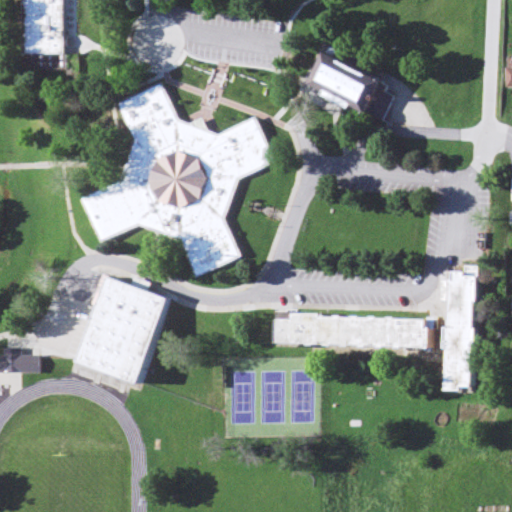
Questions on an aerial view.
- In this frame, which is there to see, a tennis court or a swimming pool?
tennis court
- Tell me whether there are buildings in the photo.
Yes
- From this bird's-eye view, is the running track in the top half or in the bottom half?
bottom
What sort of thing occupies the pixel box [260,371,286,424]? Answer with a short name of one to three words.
tennis court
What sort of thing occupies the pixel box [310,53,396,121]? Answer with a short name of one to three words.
house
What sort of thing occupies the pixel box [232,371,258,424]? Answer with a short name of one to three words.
tennis court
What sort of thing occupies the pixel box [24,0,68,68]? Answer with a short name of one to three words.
building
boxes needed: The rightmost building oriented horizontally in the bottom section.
[274,313,429,349]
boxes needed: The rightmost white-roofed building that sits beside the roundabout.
[81,85,270,276]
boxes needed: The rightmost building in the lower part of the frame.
[440,265,482,393]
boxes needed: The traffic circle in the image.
[128,14,186,72]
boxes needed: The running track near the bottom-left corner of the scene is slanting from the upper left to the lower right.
[0,378,148,512]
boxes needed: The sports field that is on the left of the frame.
[0,396,131,512]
